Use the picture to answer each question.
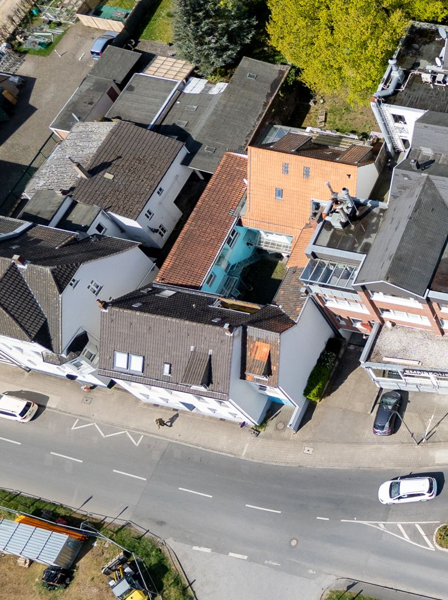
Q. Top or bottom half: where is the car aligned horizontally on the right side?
bottom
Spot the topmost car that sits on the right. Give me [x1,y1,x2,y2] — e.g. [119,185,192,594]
[373,389,404,439]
